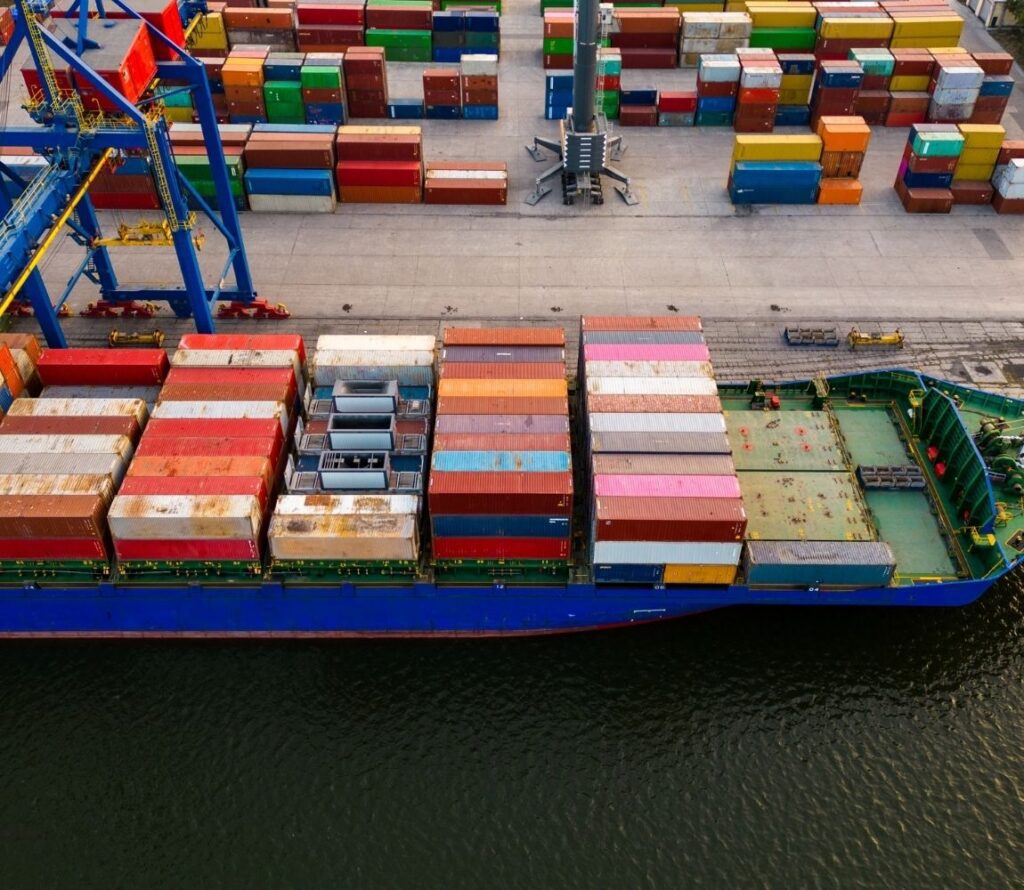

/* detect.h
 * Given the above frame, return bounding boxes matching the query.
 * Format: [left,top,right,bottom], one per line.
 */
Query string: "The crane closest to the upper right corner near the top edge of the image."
[522,0,643,209]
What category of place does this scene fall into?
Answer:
port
